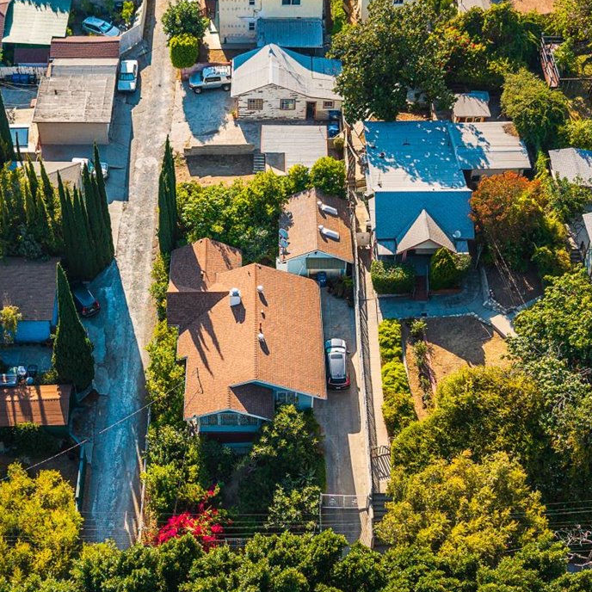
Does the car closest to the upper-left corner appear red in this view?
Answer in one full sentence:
No, from above the car closest to the upper-left corner looks blue.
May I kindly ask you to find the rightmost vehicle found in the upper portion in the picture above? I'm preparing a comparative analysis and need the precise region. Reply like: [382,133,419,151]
[191,68,232,92]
